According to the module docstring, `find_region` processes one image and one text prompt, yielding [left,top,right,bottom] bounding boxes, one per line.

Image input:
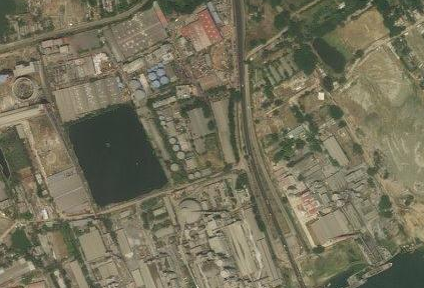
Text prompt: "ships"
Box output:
[363,264,391,281]
[345,279,367,288]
